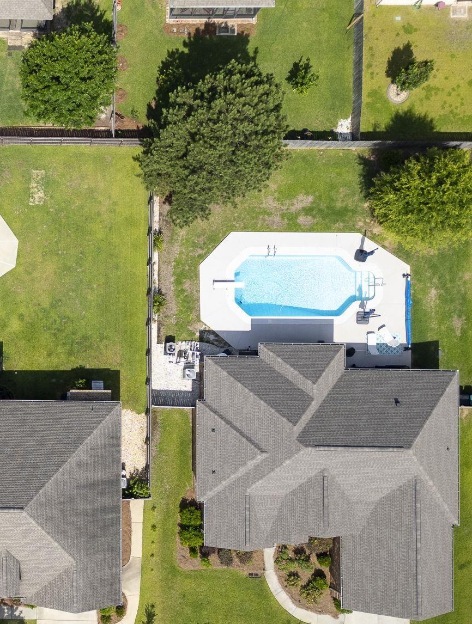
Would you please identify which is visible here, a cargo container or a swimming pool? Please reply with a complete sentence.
I can see a swimming pool in this picture.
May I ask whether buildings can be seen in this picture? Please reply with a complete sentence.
Yes, a building appears in the view.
